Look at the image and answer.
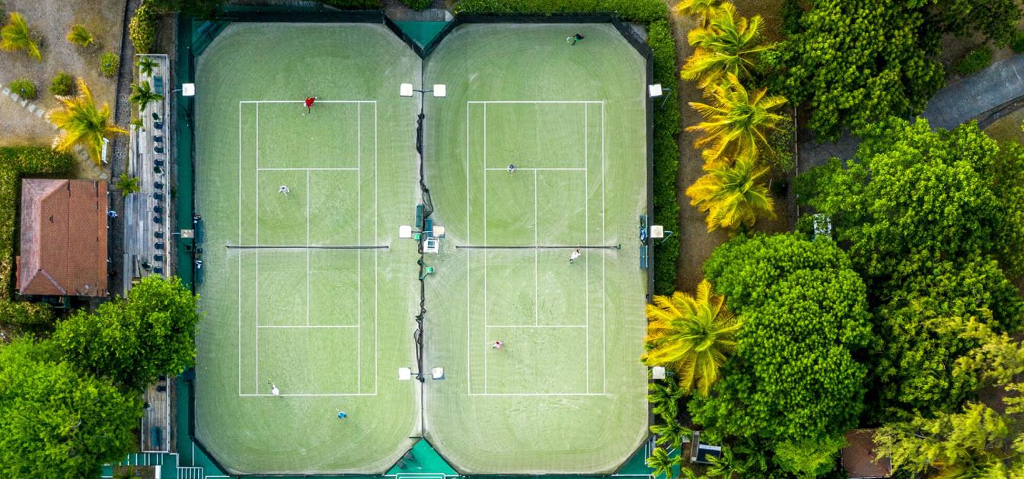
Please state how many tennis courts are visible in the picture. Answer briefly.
2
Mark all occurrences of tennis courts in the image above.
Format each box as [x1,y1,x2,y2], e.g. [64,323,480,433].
[422,22,648,475]
[194,22,422,475]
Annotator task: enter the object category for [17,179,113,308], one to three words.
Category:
house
